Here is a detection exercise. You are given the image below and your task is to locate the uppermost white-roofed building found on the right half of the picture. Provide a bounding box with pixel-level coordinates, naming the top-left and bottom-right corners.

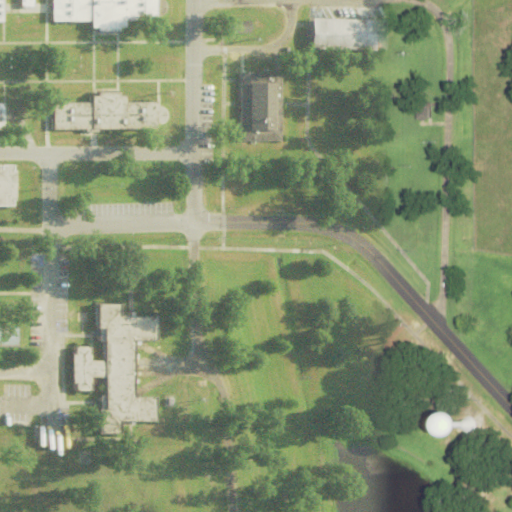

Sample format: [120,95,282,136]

[314,18,381,50]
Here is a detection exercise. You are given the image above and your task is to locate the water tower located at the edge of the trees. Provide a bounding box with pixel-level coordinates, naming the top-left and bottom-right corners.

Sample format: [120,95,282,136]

[430,416,478,444]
